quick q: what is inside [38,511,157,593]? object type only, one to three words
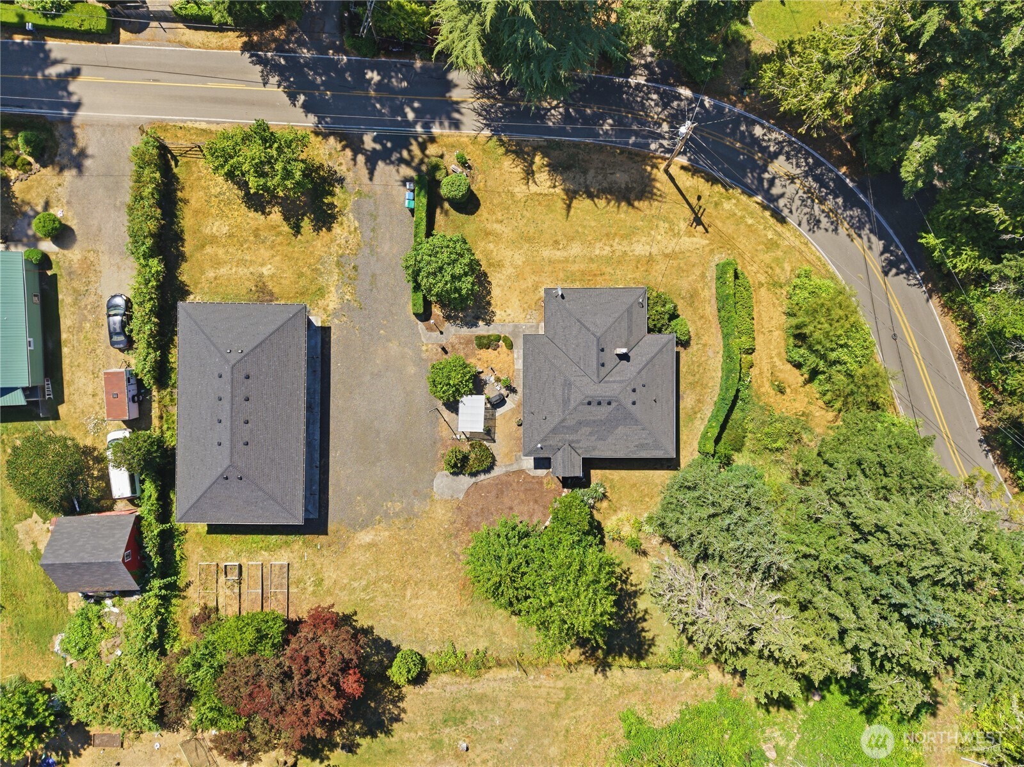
building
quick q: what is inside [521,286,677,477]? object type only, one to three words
house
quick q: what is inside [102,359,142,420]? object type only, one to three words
trailer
